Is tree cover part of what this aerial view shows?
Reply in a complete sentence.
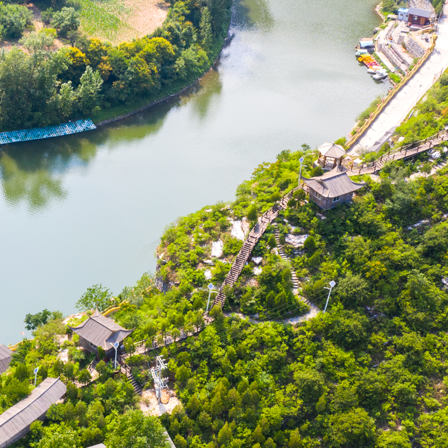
Yes, there's tree cover in this view.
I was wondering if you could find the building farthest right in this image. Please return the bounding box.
[405,8,433,28]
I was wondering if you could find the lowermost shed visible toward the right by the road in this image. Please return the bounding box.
[303,164,367,218]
